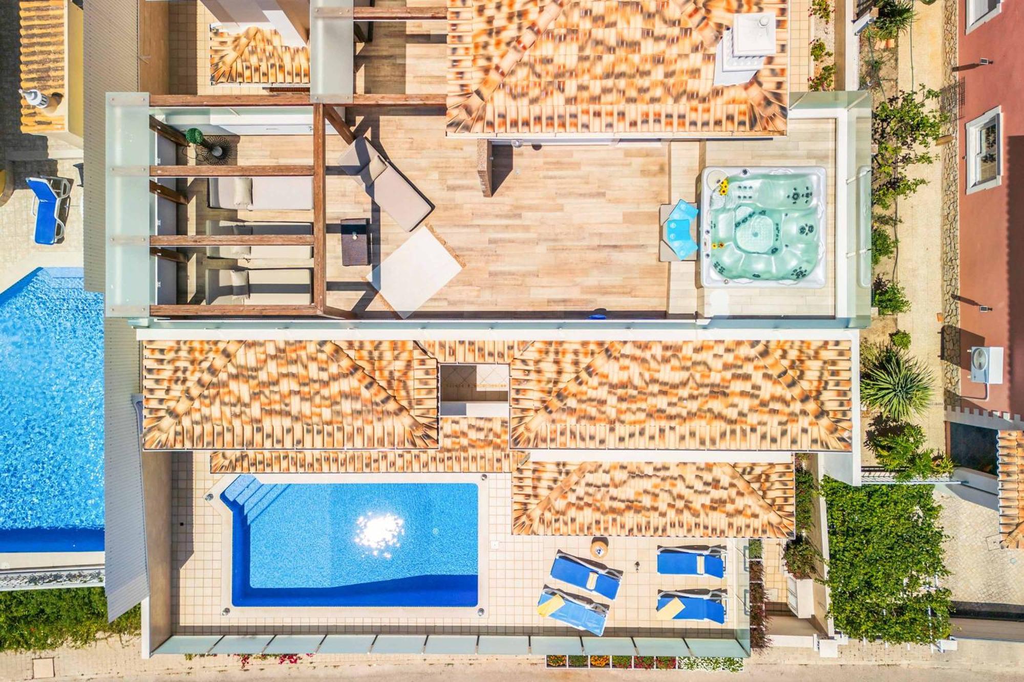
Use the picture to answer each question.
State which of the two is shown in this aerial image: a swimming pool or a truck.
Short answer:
swimming pool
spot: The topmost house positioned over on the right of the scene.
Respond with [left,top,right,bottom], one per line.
[440,0,797,148]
